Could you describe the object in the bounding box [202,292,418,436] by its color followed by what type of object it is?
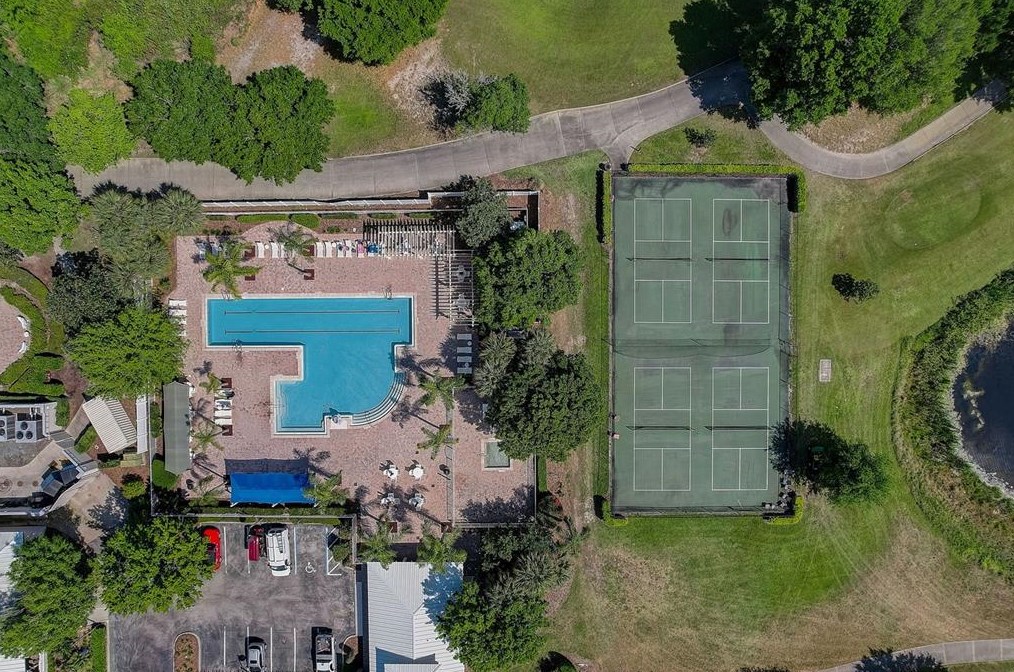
blue swimming pool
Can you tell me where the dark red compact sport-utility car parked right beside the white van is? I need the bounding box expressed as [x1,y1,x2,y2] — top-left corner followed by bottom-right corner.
[247,526,268,566]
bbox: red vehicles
[199,528,220,572]
[247,526,268,566]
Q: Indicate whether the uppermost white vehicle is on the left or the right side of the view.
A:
left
